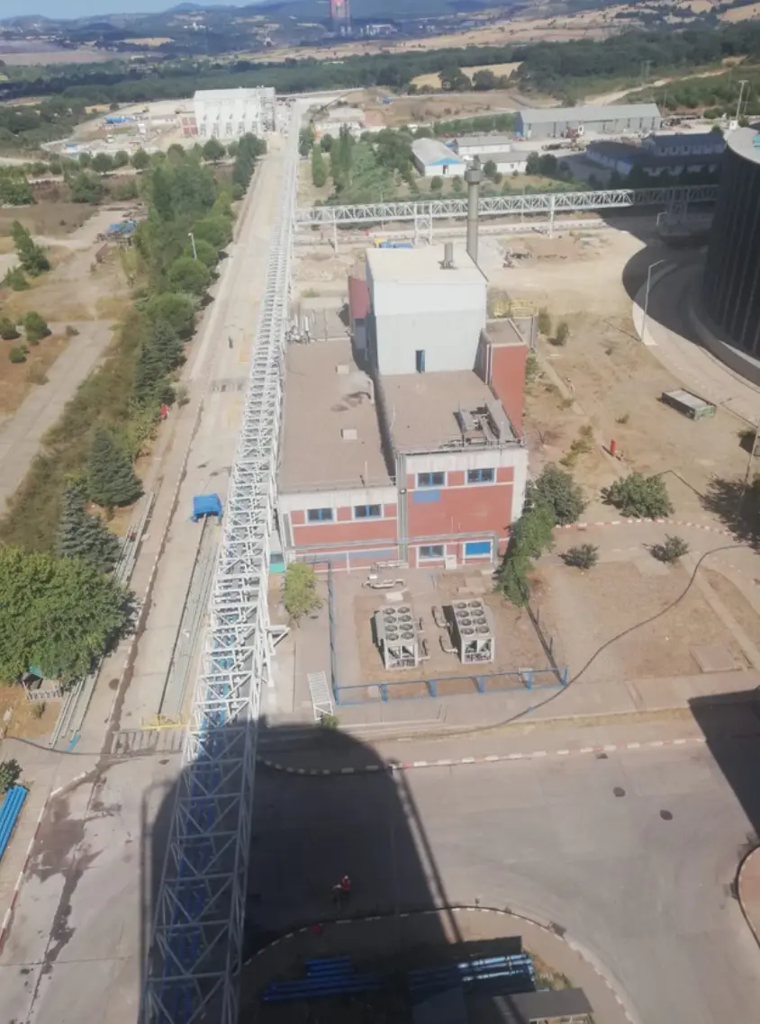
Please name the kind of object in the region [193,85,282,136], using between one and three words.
house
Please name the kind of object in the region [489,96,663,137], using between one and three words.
building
